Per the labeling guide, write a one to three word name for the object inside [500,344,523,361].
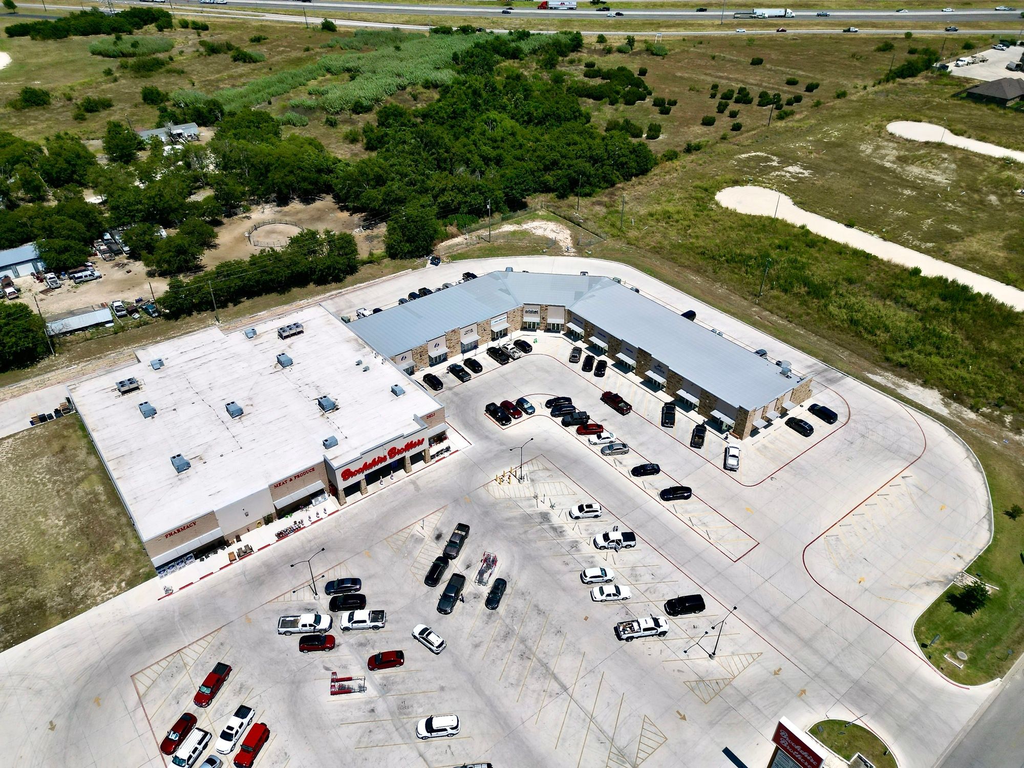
vehicle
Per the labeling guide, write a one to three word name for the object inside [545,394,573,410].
car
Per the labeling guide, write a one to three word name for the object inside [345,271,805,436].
building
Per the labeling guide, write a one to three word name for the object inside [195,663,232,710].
truck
